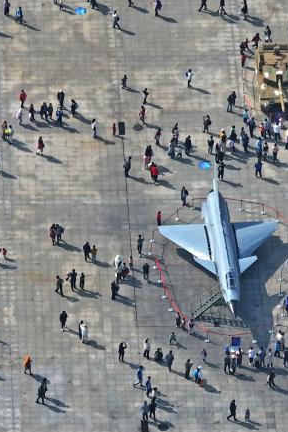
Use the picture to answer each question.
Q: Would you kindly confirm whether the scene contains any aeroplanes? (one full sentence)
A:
Yes, the picture does show an aeroplane.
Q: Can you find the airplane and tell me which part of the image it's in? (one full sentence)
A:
The airplane is located in the right region of the scene.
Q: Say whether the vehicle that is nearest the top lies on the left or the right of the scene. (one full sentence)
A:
The vehicle that is nearest the top appears in the right half of the scene.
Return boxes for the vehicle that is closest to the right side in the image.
[255,38,288,112]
